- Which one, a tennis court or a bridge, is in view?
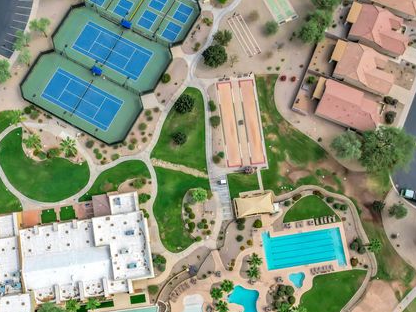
tennis court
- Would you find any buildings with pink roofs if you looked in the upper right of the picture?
Yes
